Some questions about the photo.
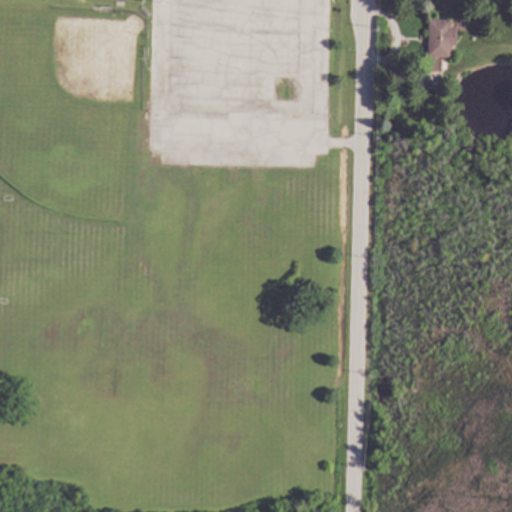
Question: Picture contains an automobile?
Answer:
No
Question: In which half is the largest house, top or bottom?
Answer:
top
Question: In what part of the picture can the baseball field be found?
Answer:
top left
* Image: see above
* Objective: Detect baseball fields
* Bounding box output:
[0,14,145,226]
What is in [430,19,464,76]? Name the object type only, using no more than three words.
house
